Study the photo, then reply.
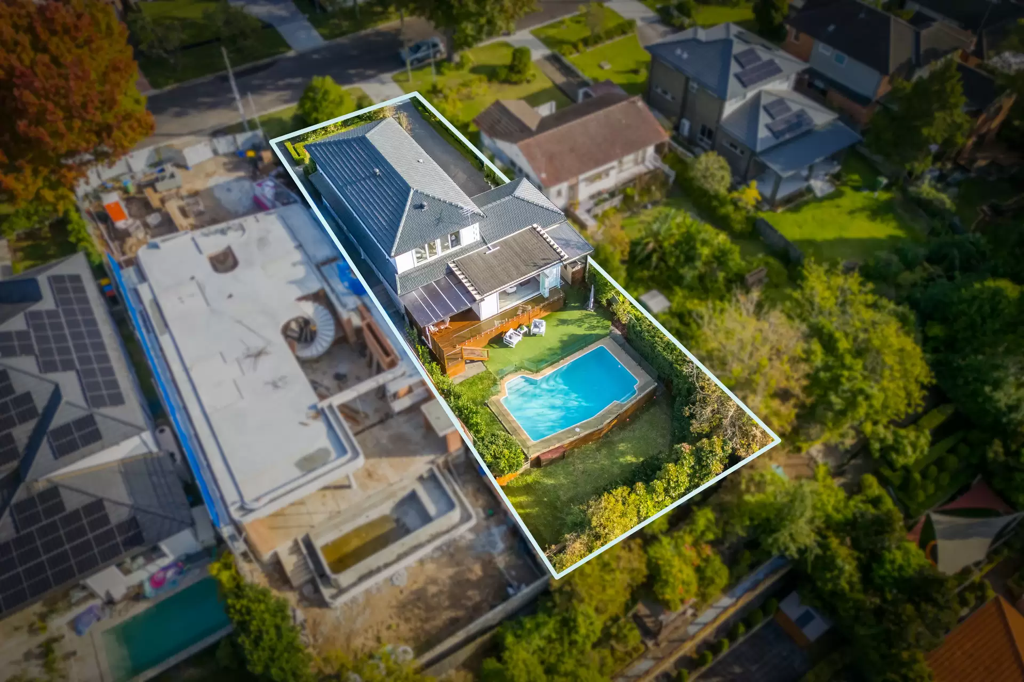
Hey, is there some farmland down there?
No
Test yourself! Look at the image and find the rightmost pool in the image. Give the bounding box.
[488,335,657,464]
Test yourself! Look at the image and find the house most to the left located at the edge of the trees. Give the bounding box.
[0,250,202,636]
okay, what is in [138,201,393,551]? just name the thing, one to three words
building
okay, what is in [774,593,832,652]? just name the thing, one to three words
shed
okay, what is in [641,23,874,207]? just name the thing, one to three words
house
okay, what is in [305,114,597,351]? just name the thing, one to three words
house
